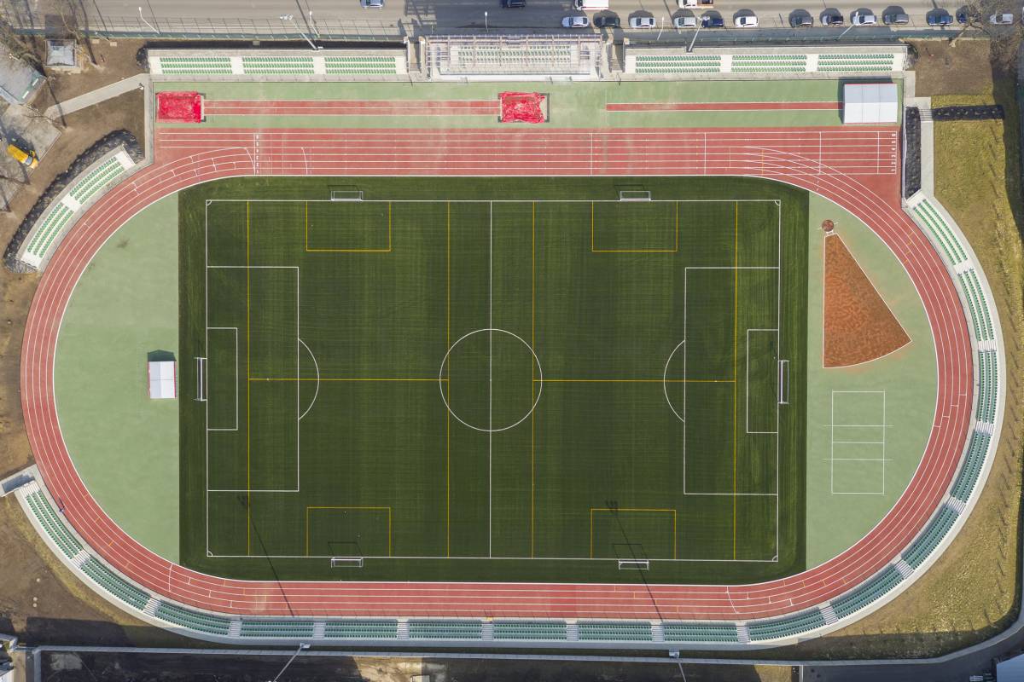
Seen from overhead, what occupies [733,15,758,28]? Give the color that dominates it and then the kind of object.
white vehicle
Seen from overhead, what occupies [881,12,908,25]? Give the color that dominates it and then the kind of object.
gray vehicle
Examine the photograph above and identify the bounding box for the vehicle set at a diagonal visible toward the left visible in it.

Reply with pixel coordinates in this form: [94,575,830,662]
[4,141,42,171]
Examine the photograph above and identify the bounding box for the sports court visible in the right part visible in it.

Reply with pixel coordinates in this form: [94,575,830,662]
[832,391,885,494]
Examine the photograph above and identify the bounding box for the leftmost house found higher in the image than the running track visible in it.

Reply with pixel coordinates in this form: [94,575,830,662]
[0,37,52,106]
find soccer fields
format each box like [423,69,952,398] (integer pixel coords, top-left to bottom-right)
[178,176,808,585]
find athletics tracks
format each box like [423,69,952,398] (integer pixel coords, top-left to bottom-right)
[20,127,972,619]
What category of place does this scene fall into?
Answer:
sports ground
